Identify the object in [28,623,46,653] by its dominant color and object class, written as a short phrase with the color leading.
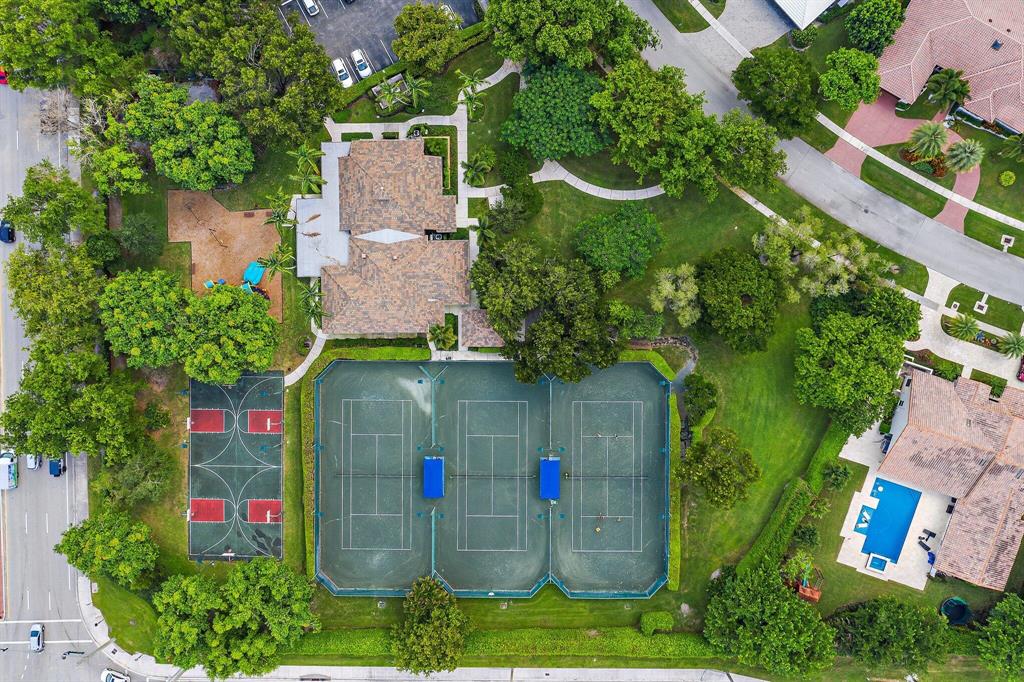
white car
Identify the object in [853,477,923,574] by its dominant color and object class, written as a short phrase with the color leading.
blue swimming pool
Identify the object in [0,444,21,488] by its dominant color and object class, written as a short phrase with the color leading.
white truck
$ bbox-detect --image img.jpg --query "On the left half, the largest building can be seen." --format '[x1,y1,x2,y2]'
[296,139,470,333]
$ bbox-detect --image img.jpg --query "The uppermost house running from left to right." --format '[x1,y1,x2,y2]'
[769,0,833,29]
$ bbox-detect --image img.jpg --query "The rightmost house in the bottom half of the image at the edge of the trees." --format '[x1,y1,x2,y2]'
[878,369,1024,590]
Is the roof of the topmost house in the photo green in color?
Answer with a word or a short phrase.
No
